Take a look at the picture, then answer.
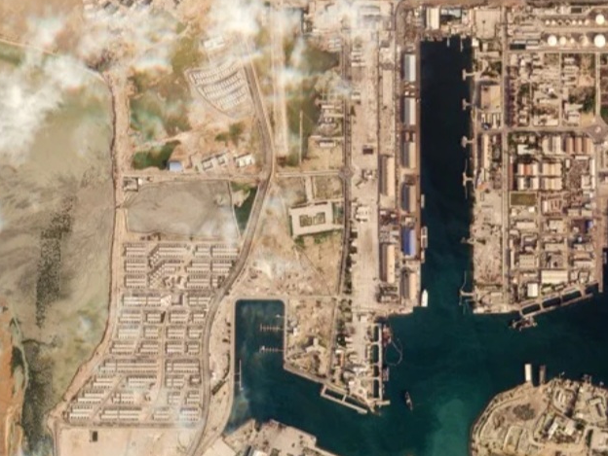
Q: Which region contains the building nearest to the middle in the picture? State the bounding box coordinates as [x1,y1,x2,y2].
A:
[291,204,332,233]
